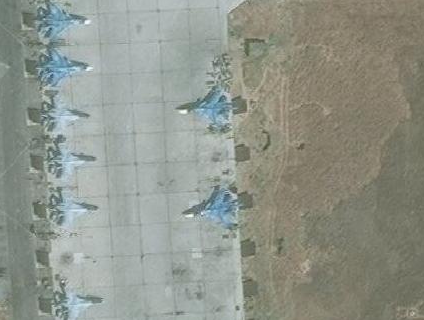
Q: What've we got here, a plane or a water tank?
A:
plane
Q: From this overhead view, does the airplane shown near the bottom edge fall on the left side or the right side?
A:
left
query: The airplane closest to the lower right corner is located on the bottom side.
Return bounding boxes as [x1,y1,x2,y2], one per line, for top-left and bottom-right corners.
[184,191,240,228]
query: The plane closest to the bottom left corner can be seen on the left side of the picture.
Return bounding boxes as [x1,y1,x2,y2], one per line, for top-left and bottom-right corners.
[49,286,104,320]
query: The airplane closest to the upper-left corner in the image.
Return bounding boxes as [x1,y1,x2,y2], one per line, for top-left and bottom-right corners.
[33,2,90,39]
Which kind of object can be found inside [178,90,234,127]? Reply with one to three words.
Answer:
airplane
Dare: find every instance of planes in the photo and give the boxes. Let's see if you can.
[36,50,92,86]
[49,286,104,320]
[45,192,99,227]
[33,2,90,39]
[43,144,98,180]
[39,97,94,133]
[184,191,240,228]
[178,90,234,127]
